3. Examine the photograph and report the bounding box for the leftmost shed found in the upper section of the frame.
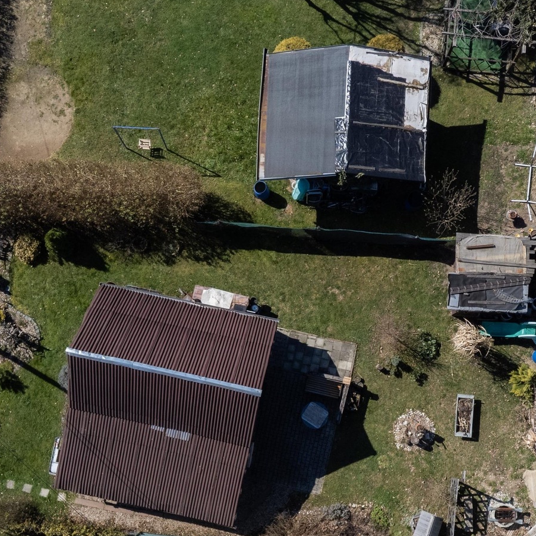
[253,39,433,194]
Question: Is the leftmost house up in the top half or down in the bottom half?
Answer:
bottom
